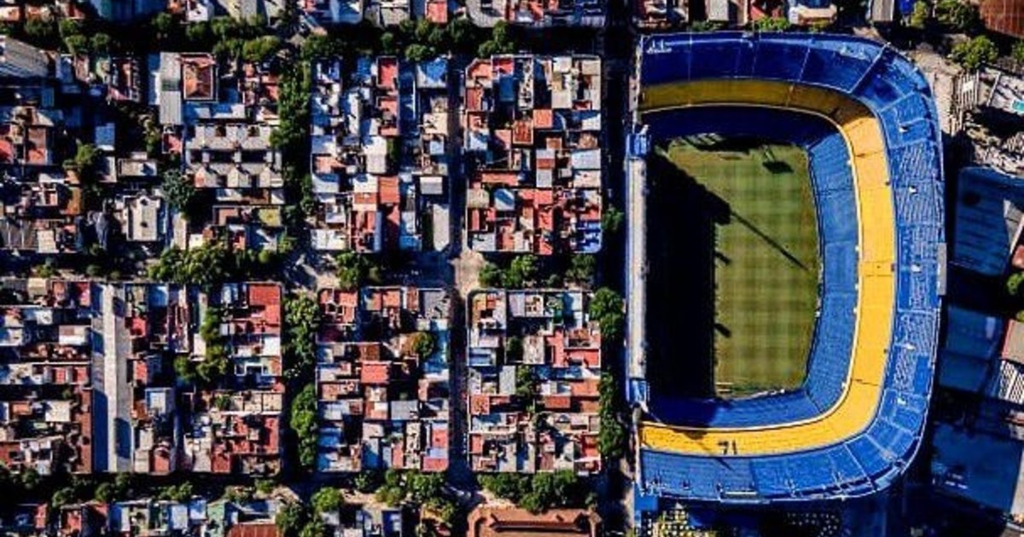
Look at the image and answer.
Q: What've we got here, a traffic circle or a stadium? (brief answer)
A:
stadium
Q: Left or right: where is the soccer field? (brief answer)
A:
right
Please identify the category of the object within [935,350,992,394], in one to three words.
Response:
building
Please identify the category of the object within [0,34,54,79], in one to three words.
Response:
building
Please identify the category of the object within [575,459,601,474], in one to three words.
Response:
house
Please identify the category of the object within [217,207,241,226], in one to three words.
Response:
house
